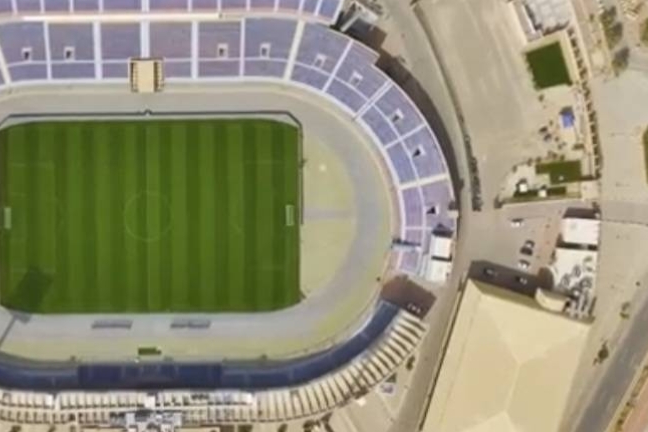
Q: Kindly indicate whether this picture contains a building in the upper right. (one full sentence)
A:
Yes, a building shows up in the upper right.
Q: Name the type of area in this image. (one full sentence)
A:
What you see here is a sports ground.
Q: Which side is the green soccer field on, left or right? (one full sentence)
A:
The green soccer field sits on the left side.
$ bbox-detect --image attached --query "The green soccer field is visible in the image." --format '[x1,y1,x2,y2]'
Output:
[0,112,301,312]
